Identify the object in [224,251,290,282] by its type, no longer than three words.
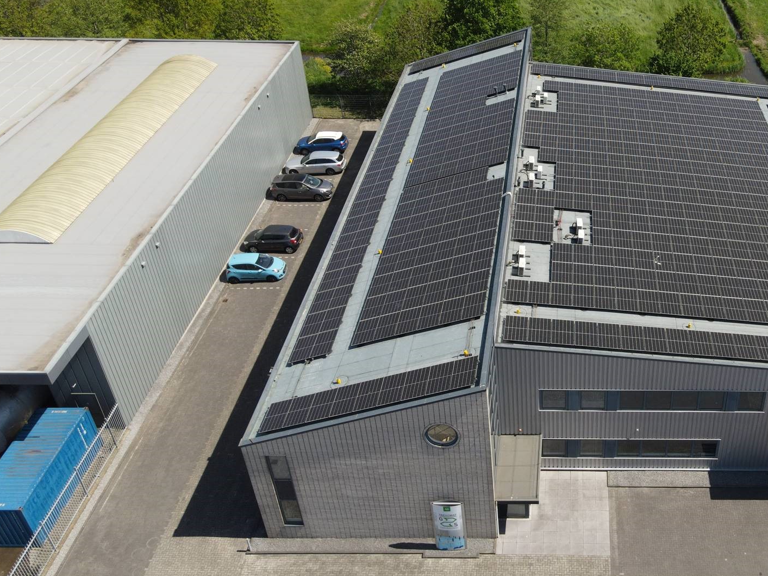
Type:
car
